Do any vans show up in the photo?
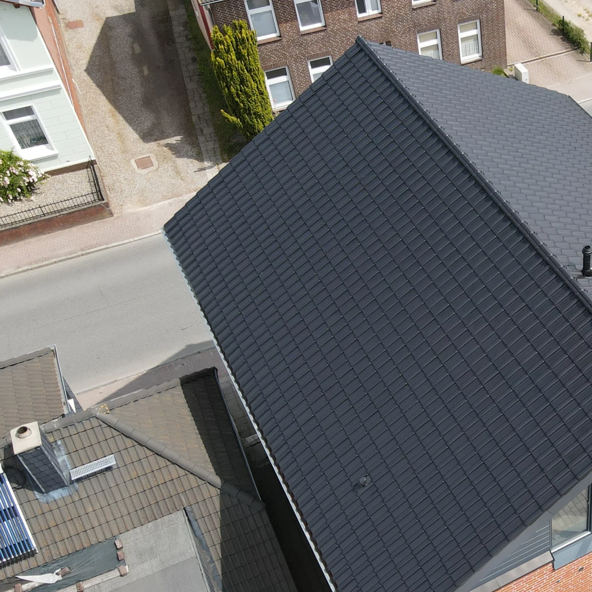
No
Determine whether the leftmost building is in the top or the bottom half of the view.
top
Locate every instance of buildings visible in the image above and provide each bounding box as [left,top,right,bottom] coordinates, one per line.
[0,340,300,592]
[158,32,592,592]
[0,0,95,186]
